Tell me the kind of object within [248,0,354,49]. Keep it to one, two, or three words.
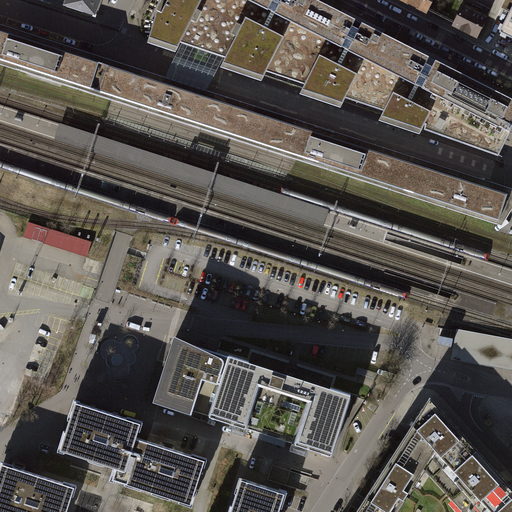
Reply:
building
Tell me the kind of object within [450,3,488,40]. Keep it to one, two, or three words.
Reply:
house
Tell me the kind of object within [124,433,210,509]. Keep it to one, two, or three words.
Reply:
building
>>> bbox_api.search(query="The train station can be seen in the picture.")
[0,101,512,287]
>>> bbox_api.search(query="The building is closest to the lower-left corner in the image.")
[0,456,82,512]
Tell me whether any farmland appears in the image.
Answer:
No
